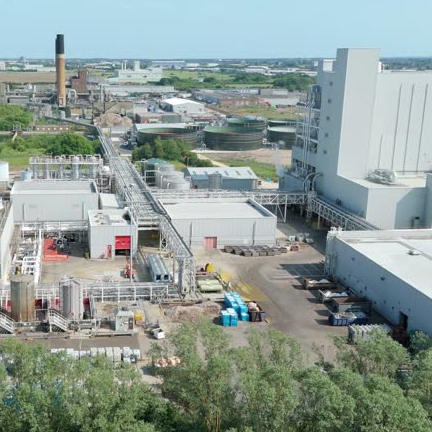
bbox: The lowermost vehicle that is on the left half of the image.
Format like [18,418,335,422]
[149,321,175,340]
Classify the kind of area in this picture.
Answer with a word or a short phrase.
industrial area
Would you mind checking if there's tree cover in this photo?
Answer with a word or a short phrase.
Yes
